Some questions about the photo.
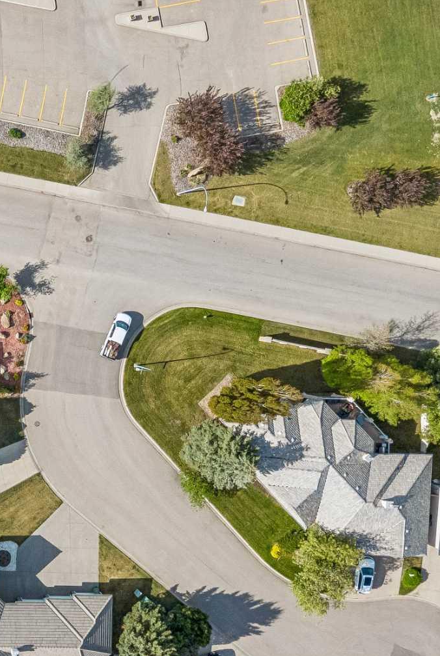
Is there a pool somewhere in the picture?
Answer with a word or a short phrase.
No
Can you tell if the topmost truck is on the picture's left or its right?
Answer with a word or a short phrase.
left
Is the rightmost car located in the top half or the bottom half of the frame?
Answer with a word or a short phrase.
bottom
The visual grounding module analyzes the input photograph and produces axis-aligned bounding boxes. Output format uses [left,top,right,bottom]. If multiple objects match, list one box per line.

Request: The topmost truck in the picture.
[101,311,133,360]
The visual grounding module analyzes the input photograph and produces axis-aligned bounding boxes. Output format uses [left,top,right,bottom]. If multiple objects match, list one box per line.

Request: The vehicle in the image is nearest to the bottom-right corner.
[358,558,380,597]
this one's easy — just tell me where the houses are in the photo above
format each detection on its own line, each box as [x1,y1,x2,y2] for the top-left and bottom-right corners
[233,395,434,557]
[0,588,112,656]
